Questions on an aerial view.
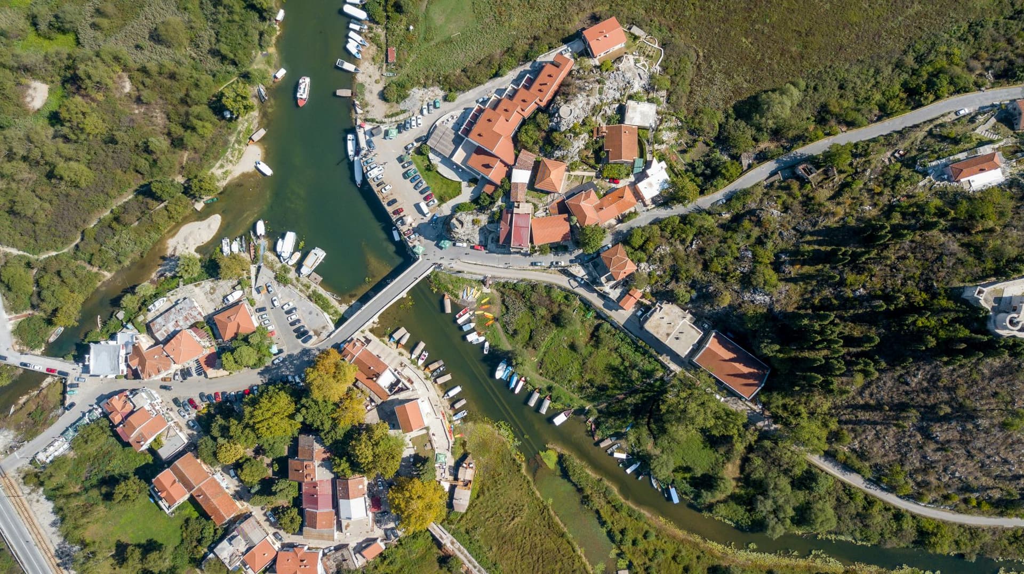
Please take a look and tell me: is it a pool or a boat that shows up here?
boat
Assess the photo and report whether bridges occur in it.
Yes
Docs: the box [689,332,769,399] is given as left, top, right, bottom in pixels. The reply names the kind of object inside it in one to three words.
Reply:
building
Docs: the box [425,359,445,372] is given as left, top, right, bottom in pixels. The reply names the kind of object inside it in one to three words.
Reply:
boat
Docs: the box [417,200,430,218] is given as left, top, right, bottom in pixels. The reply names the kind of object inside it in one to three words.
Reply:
vehicle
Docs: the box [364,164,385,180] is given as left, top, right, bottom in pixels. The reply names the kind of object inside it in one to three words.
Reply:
camper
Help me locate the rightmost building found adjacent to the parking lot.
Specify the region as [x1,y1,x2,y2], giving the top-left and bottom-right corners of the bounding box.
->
[346,339,405,400]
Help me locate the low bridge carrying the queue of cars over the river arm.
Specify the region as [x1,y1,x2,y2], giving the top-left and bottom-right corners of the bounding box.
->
[17,351,85,385]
